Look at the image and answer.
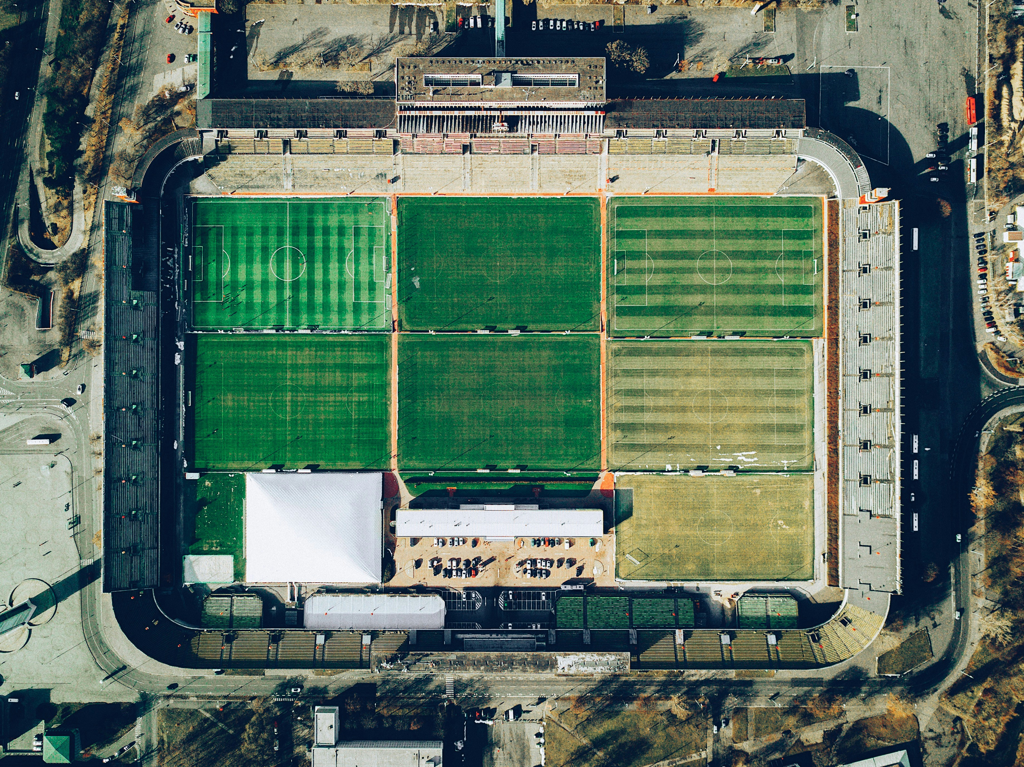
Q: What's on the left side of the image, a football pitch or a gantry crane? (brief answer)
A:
football pitch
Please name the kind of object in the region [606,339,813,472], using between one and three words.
soccer field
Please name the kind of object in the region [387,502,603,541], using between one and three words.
building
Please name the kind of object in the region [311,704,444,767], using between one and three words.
building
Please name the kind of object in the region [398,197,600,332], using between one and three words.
soccer field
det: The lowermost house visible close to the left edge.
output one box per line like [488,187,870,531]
[43,718,94,763]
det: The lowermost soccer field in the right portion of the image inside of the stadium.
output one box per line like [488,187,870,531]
[616,473,813,580]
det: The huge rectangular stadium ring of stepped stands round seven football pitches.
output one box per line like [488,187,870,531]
[102,96,906,671]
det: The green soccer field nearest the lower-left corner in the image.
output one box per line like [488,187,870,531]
[185,333,392,472]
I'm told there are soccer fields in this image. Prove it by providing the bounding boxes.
[398,333,600,472]
[185,333,392,472]
[606,197,822,338]
[606,339,813,472]
[616,473,813,580]
[185,196,392,332]
[398,197,600,332]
